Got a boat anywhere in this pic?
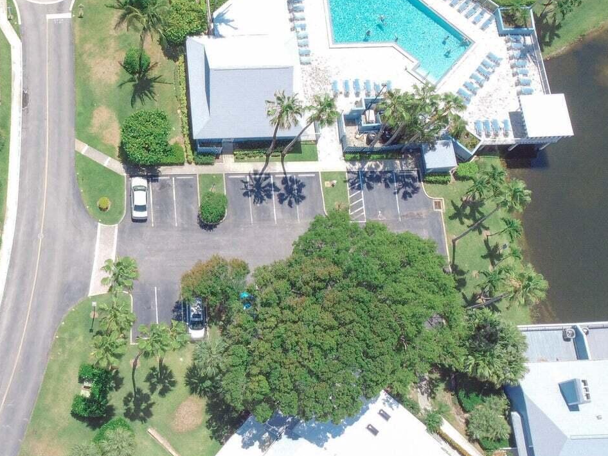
No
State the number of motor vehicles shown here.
2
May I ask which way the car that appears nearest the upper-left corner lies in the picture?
up and down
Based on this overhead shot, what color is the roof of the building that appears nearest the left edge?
white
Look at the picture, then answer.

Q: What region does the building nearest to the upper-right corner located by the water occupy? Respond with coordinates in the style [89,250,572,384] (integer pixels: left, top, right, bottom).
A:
[513,94,575,144]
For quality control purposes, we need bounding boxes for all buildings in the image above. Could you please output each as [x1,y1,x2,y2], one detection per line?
[186,35,305,155]
[417,139,457,174]
[513,94,575,144]
[493,321,608,456]
[218,394,454,456]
